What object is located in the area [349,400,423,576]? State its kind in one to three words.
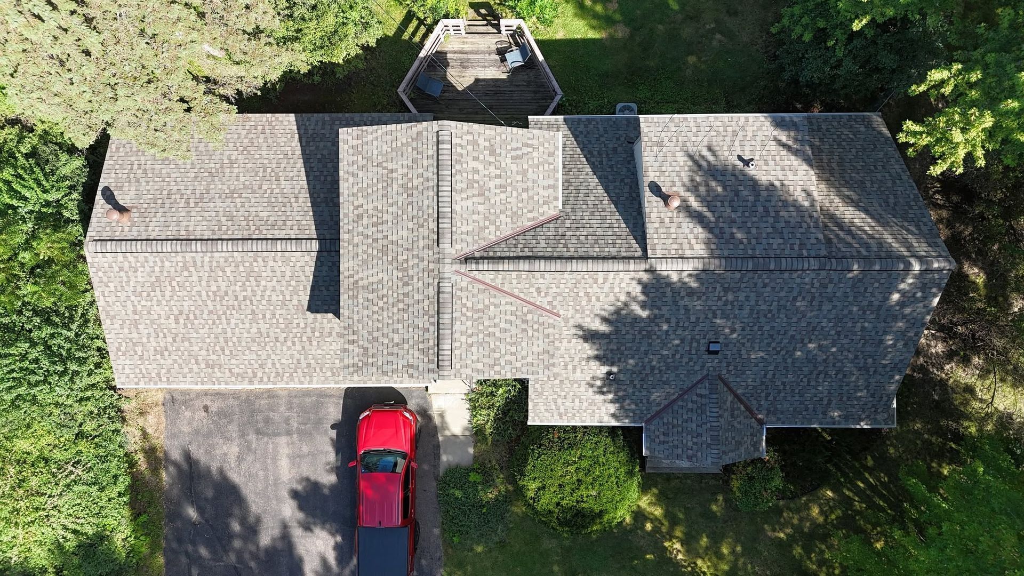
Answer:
truck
